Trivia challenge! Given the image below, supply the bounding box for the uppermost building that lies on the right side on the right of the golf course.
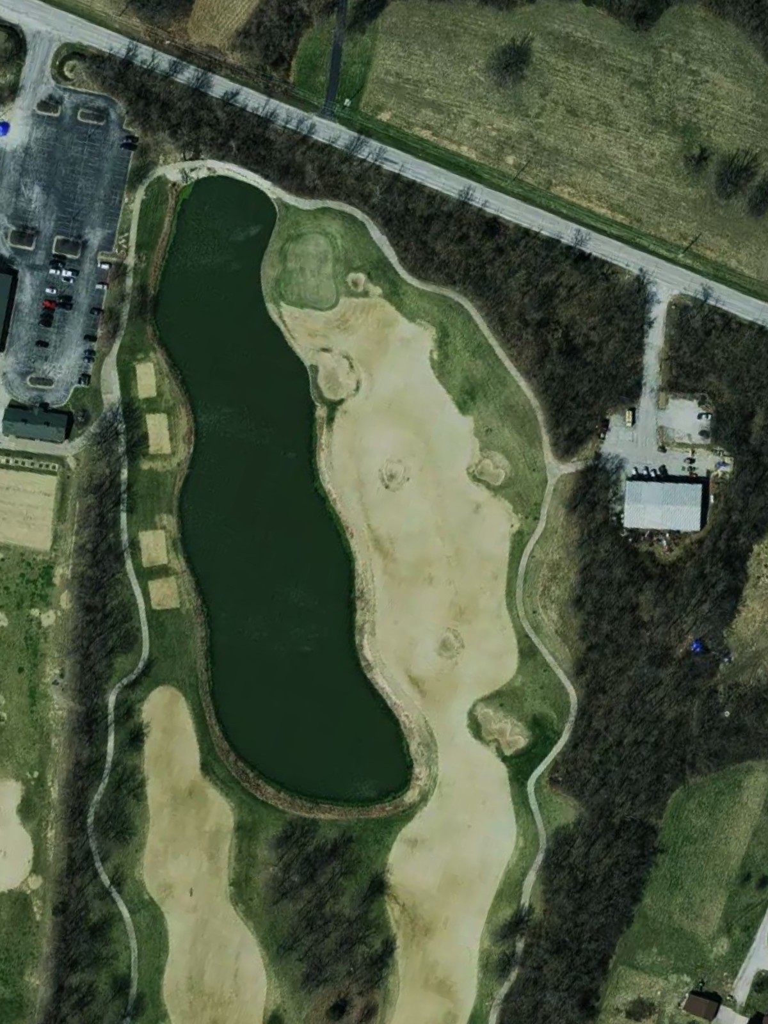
[624,481,703,532]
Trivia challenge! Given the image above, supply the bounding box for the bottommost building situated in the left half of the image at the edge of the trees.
[1,404,68,443]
